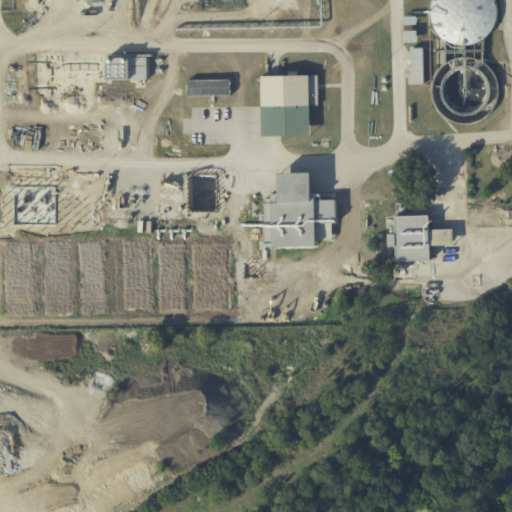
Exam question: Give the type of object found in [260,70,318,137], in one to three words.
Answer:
building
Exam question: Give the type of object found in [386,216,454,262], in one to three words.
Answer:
building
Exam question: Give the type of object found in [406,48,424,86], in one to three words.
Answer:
shed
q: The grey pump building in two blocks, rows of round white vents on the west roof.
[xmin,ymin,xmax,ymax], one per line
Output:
[105,54,152,89]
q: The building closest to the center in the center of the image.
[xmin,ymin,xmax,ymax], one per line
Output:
[262,173,336,248]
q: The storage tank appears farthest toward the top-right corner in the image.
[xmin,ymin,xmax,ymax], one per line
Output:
[422,0,498,46]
